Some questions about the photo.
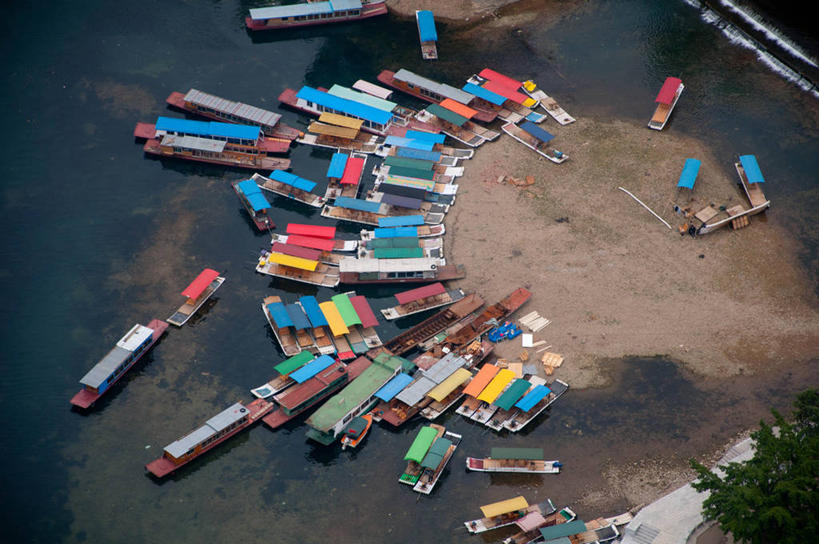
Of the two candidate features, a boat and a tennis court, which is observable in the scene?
boat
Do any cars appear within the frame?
No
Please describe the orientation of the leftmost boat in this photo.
on a diagonal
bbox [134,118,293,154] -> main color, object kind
blue boat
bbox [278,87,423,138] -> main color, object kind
blue boat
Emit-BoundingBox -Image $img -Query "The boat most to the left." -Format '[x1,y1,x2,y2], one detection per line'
[71,318,169,408]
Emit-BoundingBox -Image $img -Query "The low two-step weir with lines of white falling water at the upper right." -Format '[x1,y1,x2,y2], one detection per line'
[666,0,819,107]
